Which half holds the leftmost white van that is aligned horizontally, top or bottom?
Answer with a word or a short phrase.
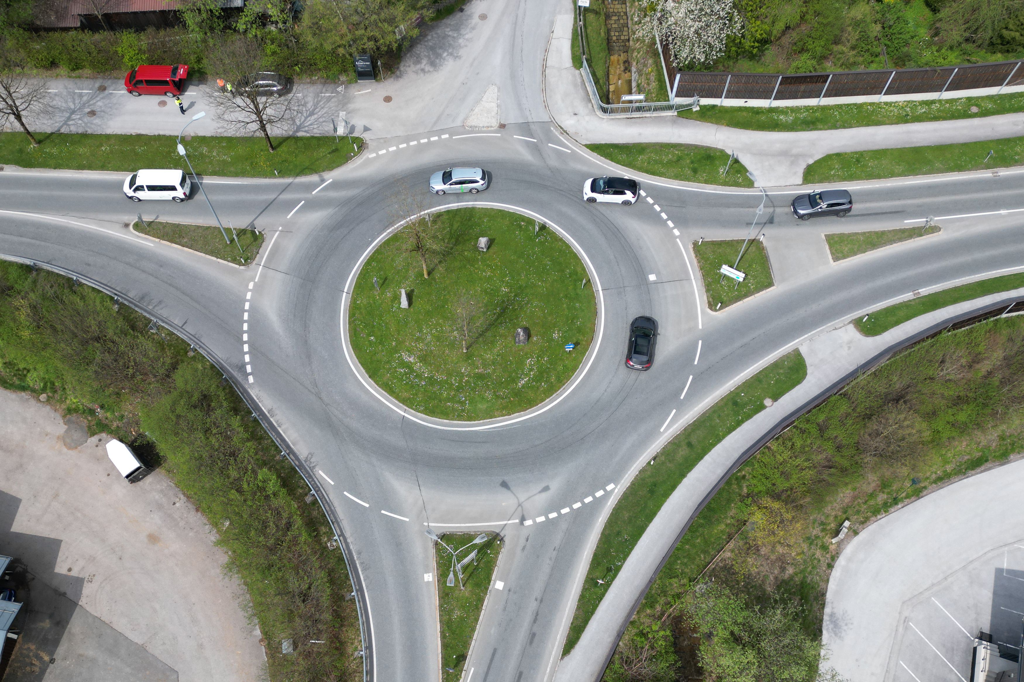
top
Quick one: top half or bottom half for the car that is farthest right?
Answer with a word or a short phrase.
top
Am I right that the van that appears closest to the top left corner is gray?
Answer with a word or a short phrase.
No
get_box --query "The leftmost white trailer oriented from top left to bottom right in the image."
[106,439,151,487]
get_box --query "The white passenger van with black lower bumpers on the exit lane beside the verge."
[120,170,192,203]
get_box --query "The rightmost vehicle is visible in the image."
[792,188,858,221]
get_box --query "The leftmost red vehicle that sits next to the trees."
[122,65,191,98]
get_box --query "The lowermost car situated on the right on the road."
[625,313,660,371]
